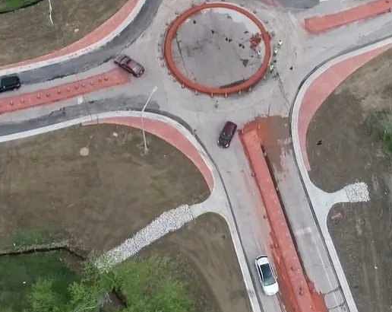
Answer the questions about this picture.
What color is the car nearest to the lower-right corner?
white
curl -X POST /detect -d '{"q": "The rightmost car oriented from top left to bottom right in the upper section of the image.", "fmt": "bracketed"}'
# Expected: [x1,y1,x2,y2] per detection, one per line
[113,52,146,80]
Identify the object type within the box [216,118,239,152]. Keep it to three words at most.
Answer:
car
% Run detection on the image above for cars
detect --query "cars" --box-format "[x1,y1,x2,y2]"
[0,75,22,93]
[254,255,279,297]
[216,118,239,152]
[113,52,146,80]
